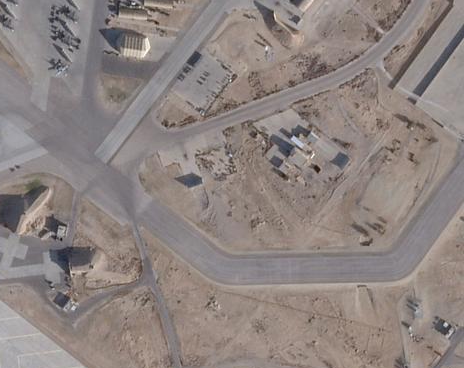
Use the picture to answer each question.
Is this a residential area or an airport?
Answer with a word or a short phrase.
airport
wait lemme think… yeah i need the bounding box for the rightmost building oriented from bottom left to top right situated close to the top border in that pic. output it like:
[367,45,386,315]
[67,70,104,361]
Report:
[395,0,464,96]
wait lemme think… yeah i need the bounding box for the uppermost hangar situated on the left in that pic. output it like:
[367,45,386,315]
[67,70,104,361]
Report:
[116,31,149,57]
